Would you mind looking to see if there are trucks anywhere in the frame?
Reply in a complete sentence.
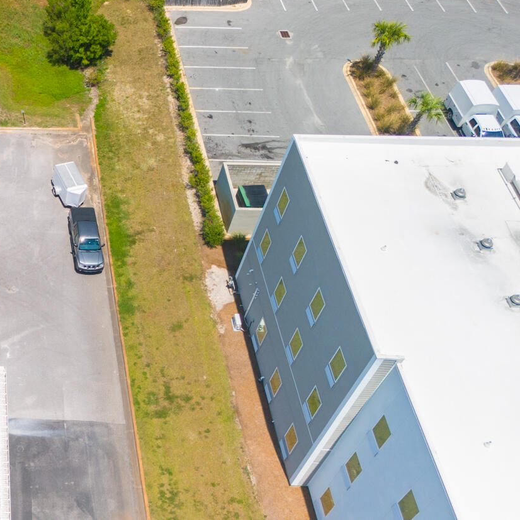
Yes, a truck can be made out from above.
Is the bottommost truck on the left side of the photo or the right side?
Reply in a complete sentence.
You can find the bottommost truck on the left side of the picture.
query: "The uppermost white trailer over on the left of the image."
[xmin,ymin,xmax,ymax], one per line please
[50,157,89,205]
